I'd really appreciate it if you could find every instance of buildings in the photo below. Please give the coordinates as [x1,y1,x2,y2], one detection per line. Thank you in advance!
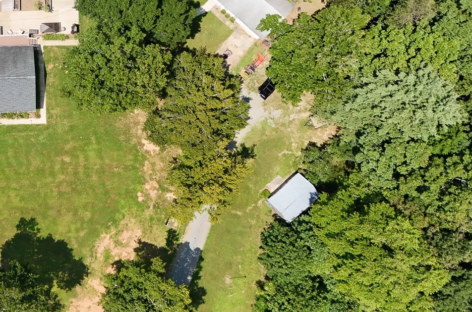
[0,42,36,112]
[205,0,297,40]
[262,171,319,224]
